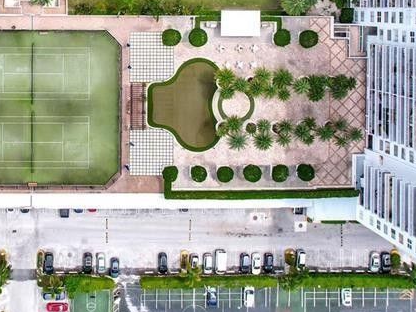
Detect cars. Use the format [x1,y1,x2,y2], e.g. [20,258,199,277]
[240,250,250,273]
[59,208,69,220]
[96,249,106,272]
[339,285,351,307]
[87,208,96,215]
[83,250,92,273]
[44,250,53,272]
[379,249,391,272]
[46,301,68,311]
[202,251,213,274]
[262,250,273,273]
[20,208,29,215]
[179,208,188,215]
[368,250,379,272]
[243,285,254,308]
[157,250,167,273]
[74,208,83,216]
[189,250,198,264]
[250,251,261,273]
[295,249,306,272]
[6,208,14,214]
[110,256,119,276]
[207,285,217,308]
